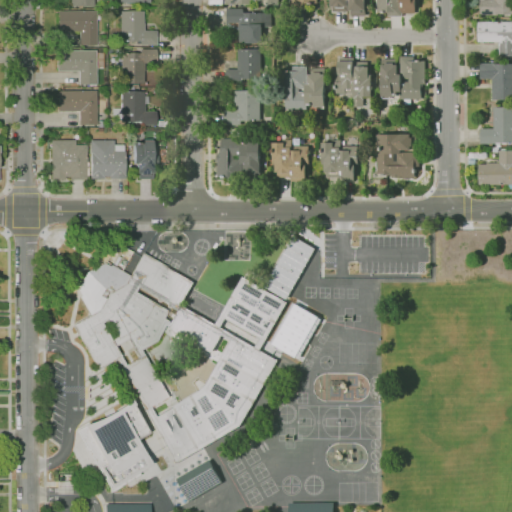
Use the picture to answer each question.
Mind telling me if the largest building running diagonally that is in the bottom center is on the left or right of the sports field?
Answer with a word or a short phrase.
on its left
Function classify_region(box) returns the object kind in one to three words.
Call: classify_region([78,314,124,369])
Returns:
building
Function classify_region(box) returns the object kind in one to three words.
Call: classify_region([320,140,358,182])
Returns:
house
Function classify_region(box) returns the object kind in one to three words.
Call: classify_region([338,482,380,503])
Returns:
sports court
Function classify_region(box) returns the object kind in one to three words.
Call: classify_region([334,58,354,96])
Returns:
house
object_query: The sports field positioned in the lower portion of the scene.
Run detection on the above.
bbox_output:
[380,282,512,512]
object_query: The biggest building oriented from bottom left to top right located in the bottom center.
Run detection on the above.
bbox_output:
[157,344,276,462]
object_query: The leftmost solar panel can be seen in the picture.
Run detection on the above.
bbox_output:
[96,417,134,452]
